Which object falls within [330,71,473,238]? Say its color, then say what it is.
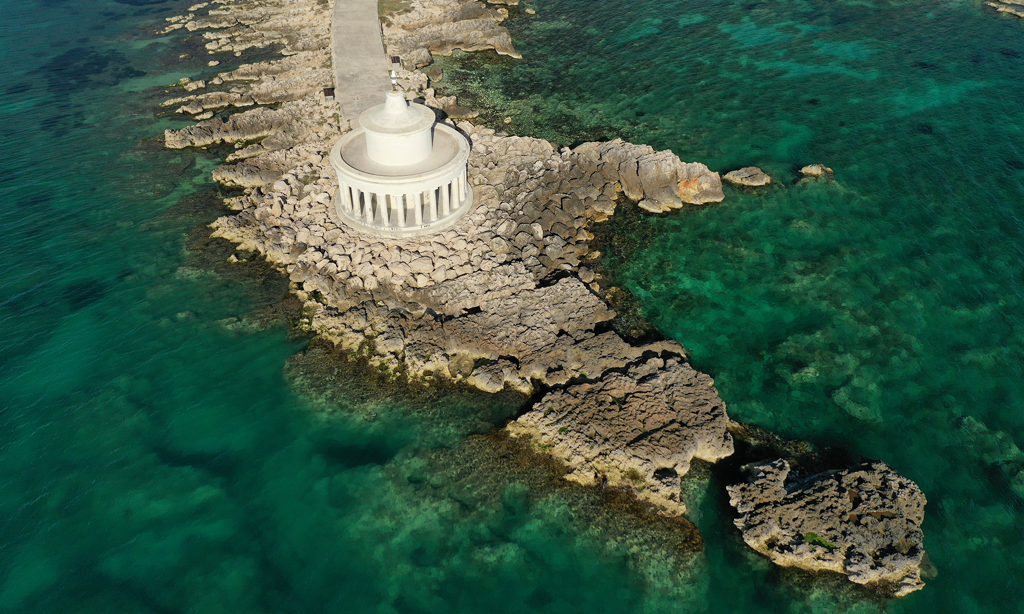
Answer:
white lighthouse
